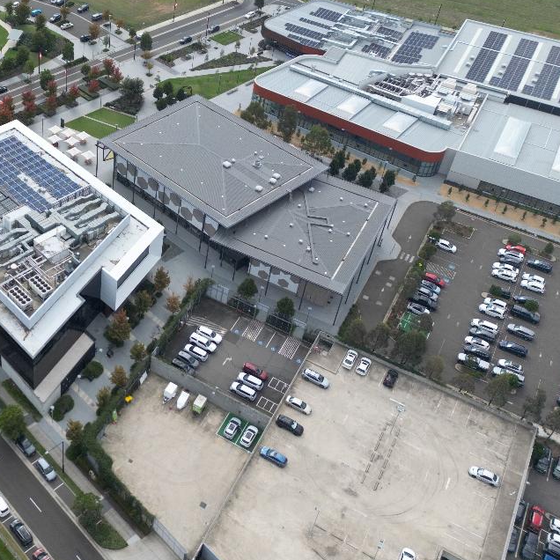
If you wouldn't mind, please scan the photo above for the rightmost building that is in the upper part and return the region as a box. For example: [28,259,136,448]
[253,0,560,217]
